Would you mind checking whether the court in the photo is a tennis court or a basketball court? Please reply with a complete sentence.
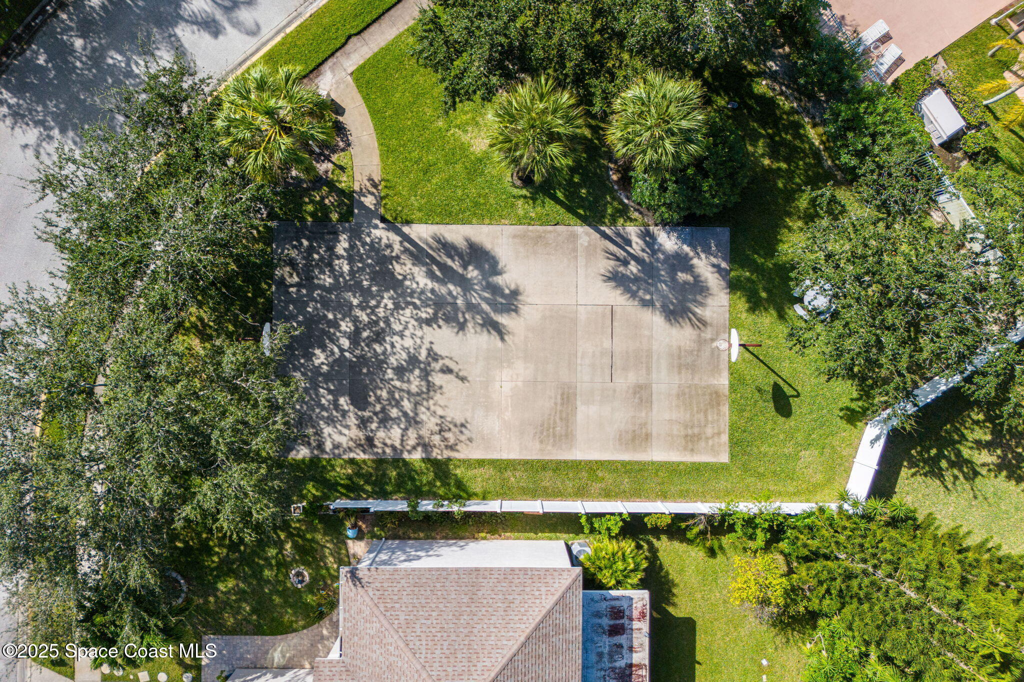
Looking closely, the court is a basketball court.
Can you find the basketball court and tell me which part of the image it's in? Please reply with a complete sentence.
You can find the basketball court in the center area of the picture.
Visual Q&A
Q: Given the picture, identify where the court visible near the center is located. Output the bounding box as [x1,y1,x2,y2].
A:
[272,222,729,462]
